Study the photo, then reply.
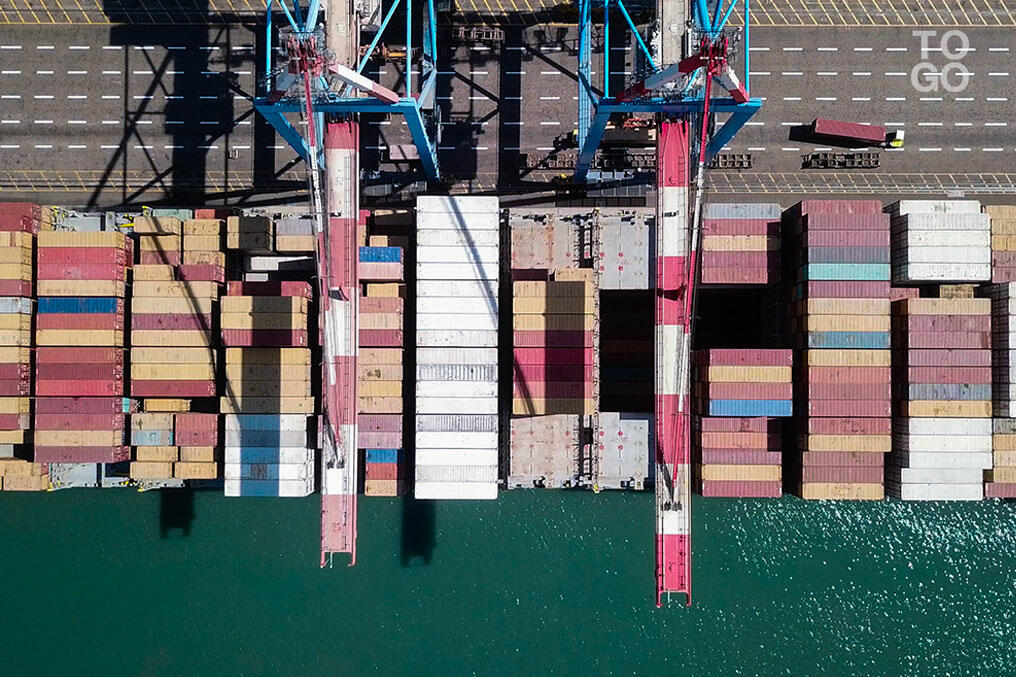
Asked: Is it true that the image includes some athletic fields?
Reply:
No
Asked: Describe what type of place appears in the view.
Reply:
port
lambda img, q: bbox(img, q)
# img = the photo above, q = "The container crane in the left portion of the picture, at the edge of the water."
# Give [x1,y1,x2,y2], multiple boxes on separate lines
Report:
[251,0,454,568]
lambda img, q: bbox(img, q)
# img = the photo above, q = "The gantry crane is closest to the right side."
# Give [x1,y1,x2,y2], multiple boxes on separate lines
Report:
[557,0,762,608]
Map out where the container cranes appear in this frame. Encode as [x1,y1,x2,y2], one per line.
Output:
[251,0,454,568]
[557,0,762,608]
